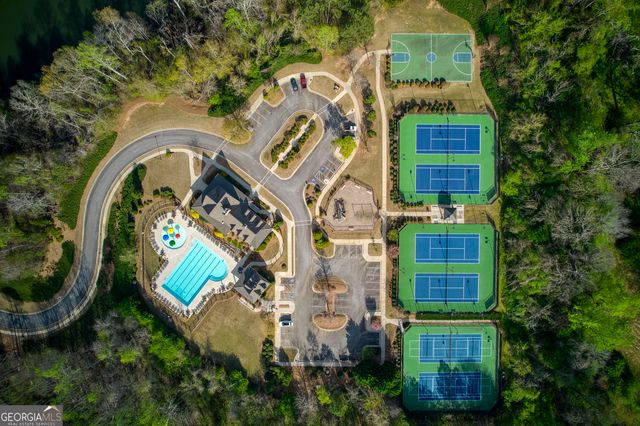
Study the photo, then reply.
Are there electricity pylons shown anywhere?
No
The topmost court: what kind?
basketball court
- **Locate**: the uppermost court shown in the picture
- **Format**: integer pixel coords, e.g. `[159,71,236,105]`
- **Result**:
[391,34,471,82]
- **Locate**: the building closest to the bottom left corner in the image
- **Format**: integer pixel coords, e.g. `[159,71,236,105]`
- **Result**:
[229,268,271,307]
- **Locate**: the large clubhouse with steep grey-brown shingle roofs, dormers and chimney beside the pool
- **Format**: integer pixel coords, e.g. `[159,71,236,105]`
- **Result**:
[190,174,273,250]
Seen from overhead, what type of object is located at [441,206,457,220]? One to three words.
gazebo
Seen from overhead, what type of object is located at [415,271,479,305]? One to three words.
tennis court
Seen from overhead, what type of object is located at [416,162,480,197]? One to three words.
tennis court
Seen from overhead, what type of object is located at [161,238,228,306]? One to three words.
swimming pool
